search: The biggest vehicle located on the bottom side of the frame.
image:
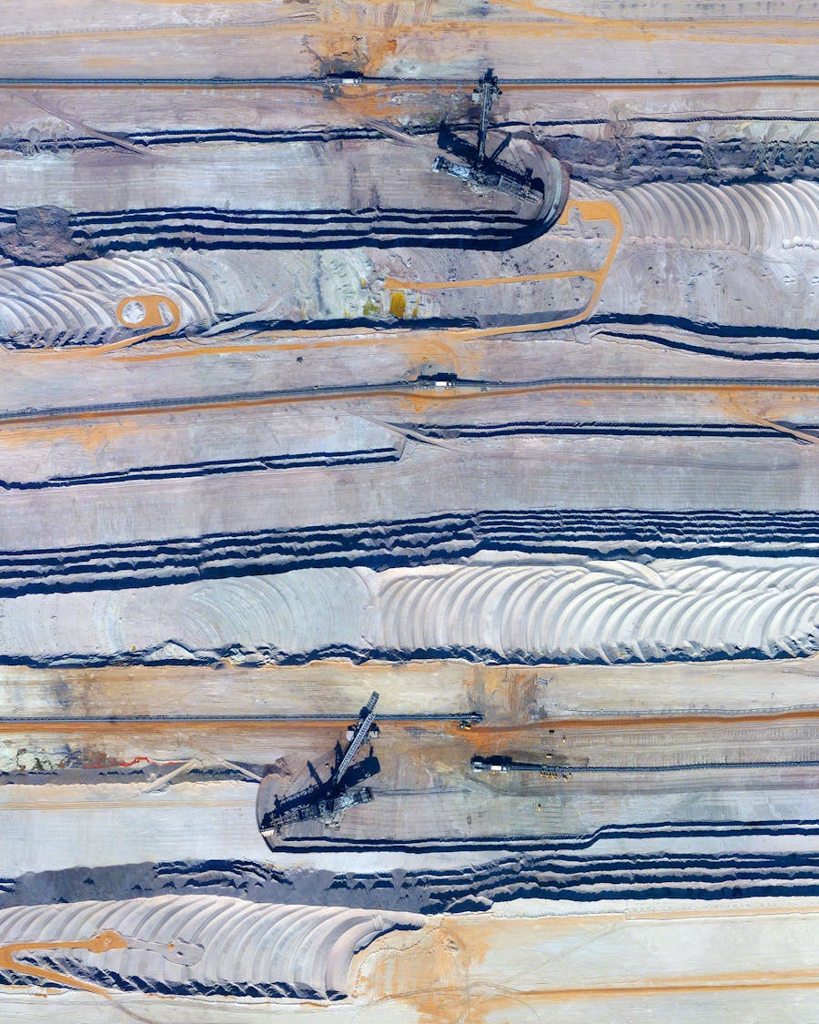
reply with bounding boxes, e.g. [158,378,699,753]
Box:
[255,719,375,836]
